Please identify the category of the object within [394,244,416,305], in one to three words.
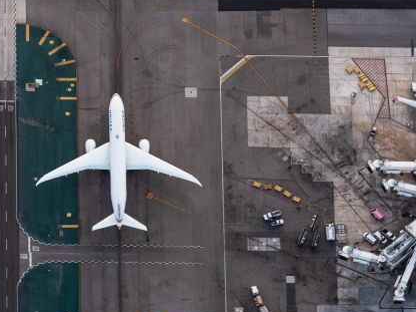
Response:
jet bridge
